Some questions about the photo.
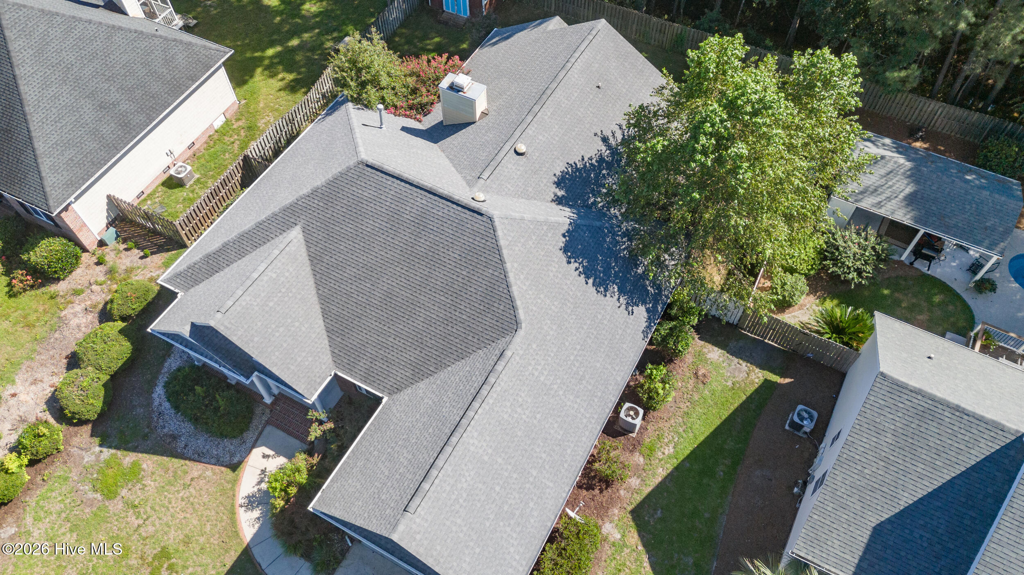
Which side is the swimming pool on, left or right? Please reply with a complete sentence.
The swimming pool sits on the right side.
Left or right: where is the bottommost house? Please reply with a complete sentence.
The bottommost house is on the right side of the image.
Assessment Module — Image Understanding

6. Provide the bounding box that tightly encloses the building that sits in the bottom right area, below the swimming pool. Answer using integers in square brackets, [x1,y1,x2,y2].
[778,308,1024,575]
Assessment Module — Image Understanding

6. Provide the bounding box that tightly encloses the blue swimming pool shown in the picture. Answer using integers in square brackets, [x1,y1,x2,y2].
[1004,244,1024,292]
